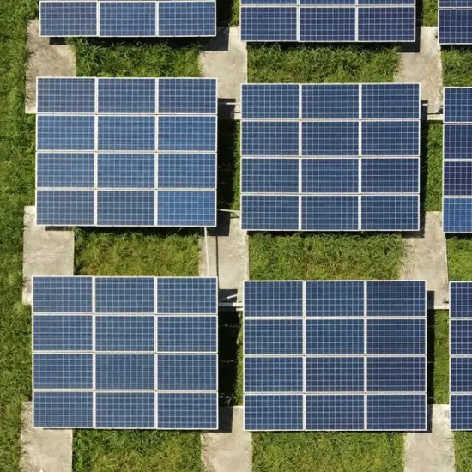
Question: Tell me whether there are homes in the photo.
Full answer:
No, no home is visible in the scene.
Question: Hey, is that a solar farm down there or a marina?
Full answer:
This image shows a solar farm.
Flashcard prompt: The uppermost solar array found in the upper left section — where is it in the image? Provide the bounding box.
[39,0,217,37]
